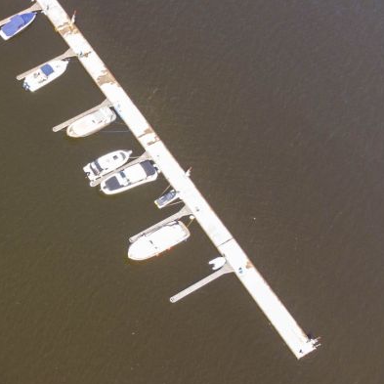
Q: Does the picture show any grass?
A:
No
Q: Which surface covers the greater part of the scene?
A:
water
